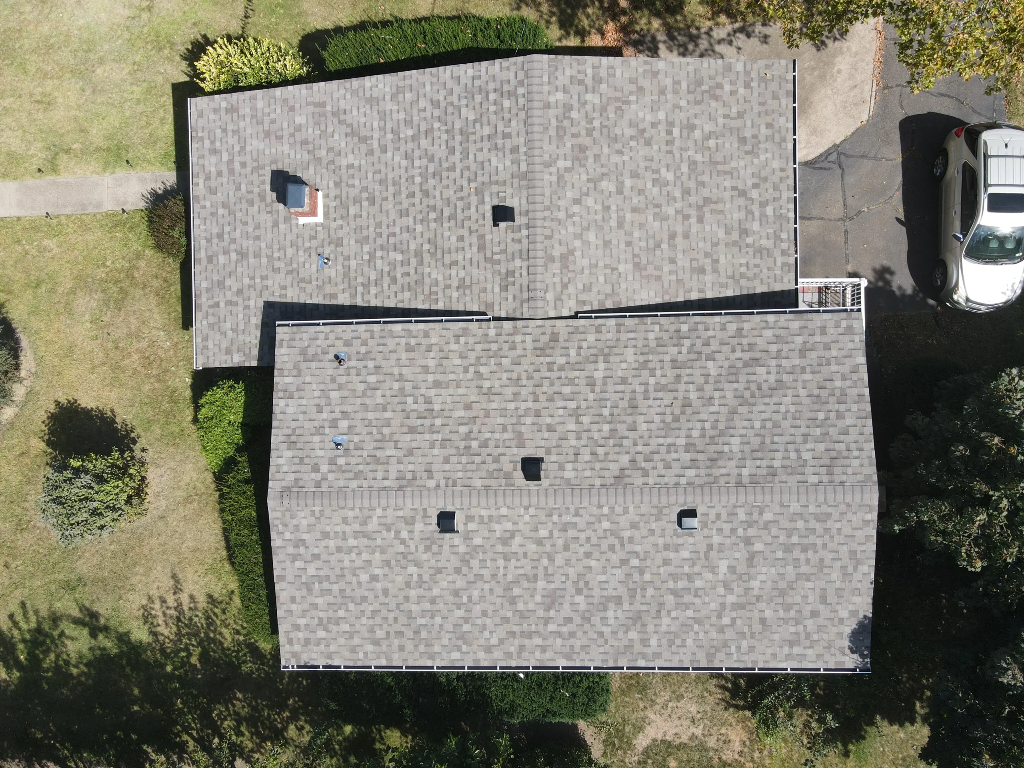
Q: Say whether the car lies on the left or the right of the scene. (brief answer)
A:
right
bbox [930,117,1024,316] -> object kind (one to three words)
car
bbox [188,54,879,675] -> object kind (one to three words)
house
